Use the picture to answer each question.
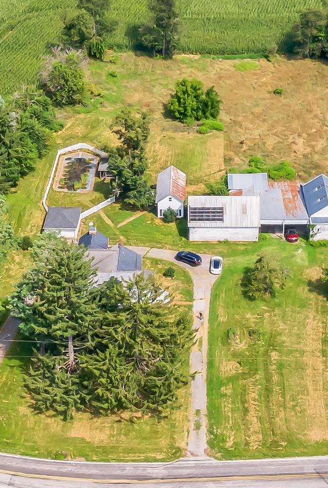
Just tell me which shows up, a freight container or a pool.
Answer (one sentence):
The image shows a pool.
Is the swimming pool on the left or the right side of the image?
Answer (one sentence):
The swimming pool sits on the left side.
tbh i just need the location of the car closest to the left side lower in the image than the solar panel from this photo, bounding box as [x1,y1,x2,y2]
[174,251,204,268]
